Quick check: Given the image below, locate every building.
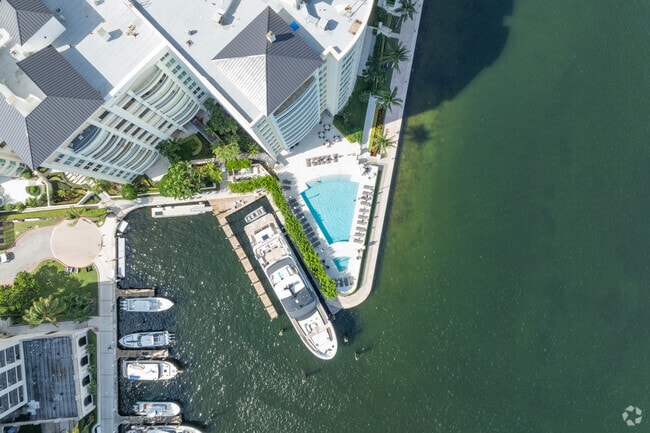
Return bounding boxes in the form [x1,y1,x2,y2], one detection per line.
[0,326,96,433]
[0,0,374,182]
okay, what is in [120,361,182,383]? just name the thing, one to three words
boat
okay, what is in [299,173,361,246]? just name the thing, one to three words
swimming pool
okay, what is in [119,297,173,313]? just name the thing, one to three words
boat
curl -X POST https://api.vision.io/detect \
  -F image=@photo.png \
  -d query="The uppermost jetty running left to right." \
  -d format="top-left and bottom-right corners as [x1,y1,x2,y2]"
[152,204,213,218]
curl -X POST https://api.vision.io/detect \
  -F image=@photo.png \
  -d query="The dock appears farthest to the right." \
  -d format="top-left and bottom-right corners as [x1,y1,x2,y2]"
[216,215,277,319]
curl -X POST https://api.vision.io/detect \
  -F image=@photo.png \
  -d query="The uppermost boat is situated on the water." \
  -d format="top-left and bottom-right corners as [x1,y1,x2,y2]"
[243,207,265,222]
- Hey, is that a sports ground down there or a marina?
marina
